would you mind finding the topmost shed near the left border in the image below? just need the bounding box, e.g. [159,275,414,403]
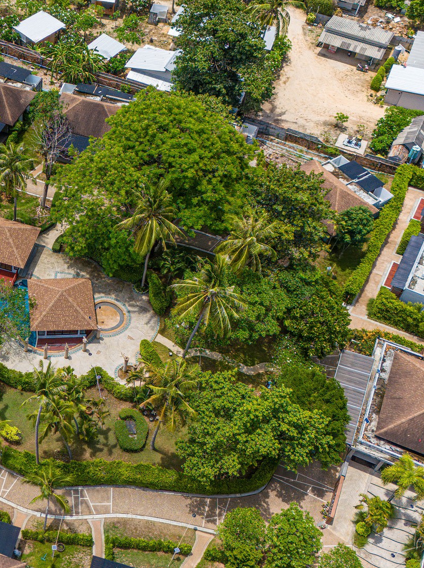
[16,10,65,56]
